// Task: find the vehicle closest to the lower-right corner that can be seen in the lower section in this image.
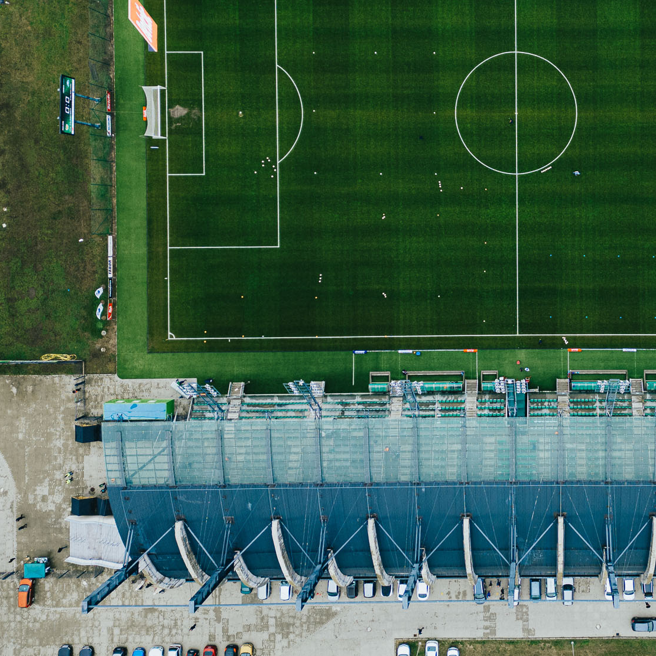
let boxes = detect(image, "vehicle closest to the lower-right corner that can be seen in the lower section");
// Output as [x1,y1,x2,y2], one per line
[632,616,656,633]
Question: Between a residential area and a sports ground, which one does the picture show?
sports ground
